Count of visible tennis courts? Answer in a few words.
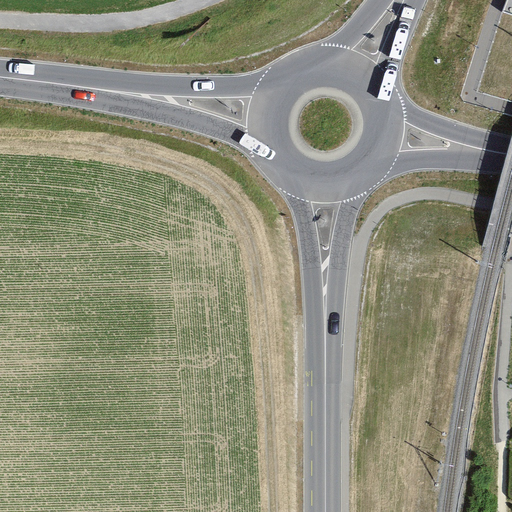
0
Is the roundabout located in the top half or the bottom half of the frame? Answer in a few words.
top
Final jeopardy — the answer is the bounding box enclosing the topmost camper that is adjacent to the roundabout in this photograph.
[390,20,410,60]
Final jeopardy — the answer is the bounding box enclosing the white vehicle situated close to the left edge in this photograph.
[8,62,36,74]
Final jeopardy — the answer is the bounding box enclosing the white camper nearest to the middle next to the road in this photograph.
[240,133,276,160]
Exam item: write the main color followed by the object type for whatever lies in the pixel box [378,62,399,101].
white camper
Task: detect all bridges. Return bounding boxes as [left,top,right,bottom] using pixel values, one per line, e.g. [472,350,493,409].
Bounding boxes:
[482,130,512,248]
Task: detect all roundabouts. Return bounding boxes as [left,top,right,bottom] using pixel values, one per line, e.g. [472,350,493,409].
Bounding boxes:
[246,44,406,202]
